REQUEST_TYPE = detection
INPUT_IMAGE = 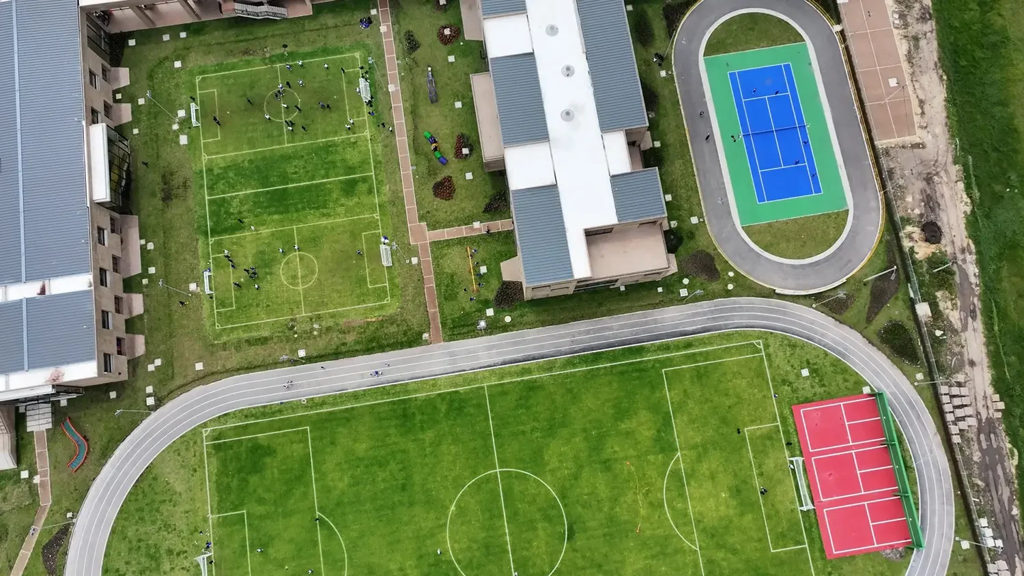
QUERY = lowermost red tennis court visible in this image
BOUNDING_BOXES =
[815,494,914,559]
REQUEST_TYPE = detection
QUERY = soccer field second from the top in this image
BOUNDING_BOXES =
[209,214,390,329]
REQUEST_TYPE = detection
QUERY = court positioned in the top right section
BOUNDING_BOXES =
[704,41,849,226]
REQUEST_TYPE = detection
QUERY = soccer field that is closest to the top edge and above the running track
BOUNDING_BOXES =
[196,53,369,158]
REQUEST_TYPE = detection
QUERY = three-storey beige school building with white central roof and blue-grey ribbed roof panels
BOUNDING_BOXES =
[470,0,670,300]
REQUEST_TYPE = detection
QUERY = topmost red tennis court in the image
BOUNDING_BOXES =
[792,392,888,456]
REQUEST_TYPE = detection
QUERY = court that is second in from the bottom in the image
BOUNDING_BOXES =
[804,443,900,506]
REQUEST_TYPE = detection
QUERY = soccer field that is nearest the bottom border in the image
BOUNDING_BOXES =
[201,339,814,576]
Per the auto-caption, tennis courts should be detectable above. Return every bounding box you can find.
[792,392,888,456]
[815,494,914,559]
[704,41,849,226]
[804,443,900,506]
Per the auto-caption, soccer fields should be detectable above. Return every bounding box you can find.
[209,214,390,329]
[201,339,814,576]
[196,53,369,158]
